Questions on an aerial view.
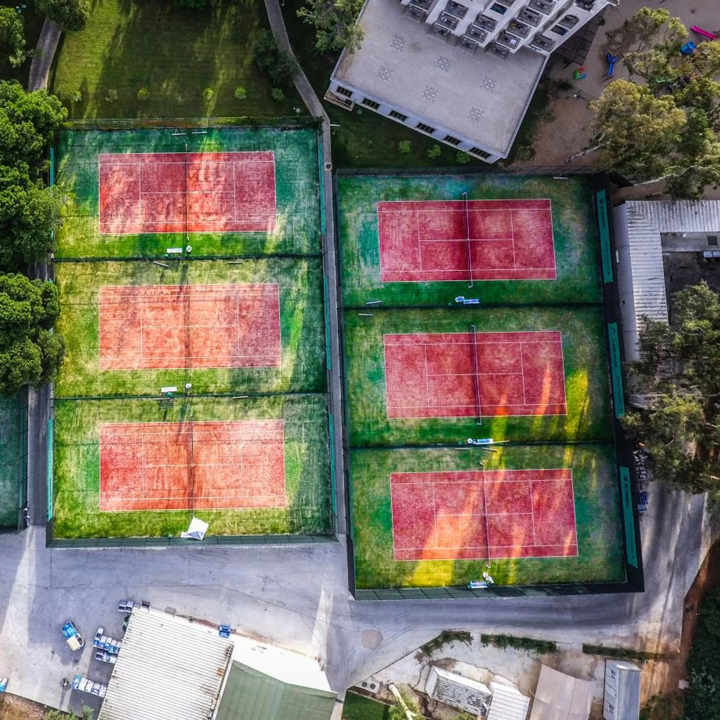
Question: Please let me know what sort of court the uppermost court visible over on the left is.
tennis court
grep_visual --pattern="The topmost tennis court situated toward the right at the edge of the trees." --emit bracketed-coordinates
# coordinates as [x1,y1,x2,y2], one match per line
[341,173,603,308]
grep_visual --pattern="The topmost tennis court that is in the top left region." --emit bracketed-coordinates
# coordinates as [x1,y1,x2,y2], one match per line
[55,129,323,260]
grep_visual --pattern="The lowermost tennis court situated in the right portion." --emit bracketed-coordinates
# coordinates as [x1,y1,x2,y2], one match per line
[354,442,627,589]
